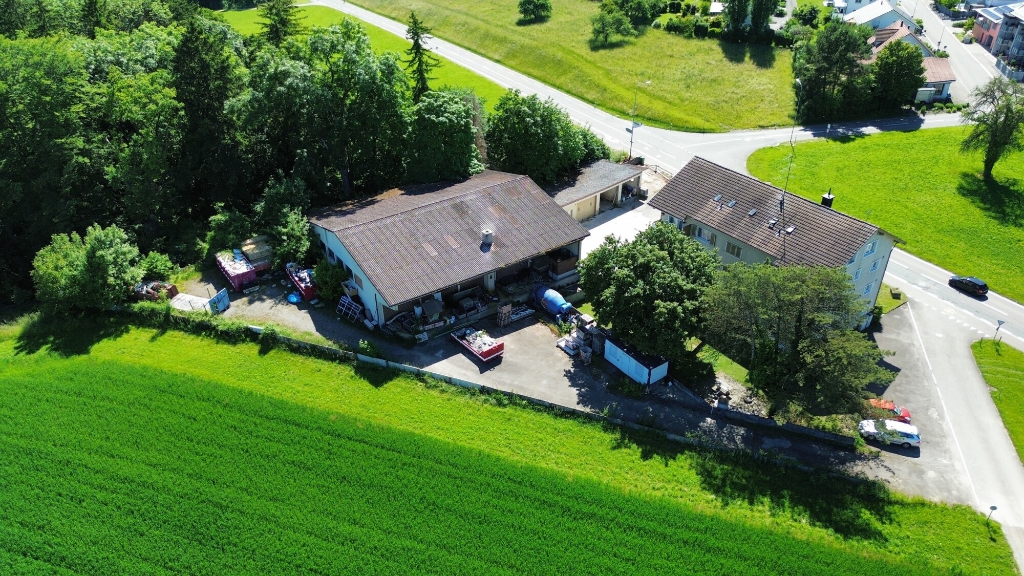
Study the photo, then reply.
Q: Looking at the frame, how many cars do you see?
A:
3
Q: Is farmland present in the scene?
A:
Yes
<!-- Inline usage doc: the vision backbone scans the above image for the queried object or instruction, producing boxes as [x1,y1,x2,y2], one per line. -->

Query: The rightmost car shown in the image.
[946,271,995,295]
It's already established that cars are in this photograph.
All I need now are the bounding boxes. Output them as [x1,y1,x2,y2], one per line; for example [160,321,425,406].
[862,400,915,422]
[946,271,995,295]
[860,415,922,447]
